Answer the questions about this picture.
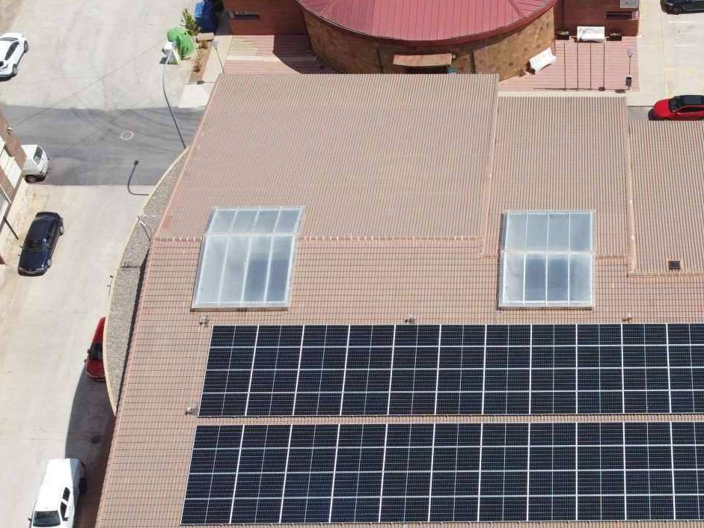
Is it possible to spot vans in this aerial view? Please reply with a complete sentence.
Yes, a van can be made out from above.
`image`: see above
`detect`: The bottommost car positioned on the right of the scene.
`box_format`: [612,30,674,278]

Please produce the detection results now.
[653,86,704,120]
